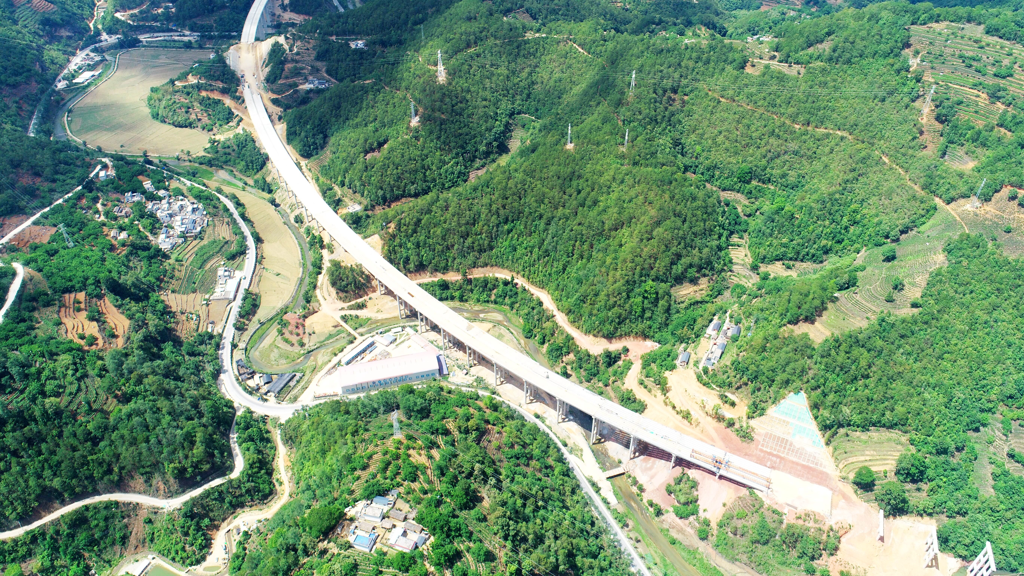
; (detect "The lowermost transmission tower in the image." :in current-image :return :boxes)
[390,408,402,436]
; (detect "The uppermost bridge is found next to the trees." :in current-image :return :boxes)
[245,0,279,47]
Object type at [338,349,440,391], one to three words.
building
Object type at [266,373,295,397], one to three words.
greenhouse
